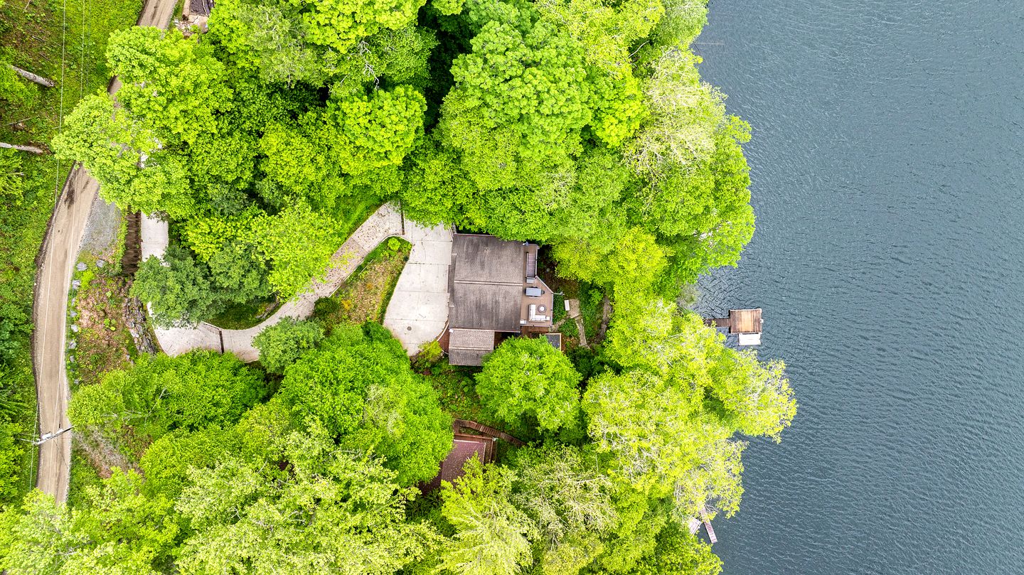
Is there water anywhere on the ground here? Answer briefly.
Yes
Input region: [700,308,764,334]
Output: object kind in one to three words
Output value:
pier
